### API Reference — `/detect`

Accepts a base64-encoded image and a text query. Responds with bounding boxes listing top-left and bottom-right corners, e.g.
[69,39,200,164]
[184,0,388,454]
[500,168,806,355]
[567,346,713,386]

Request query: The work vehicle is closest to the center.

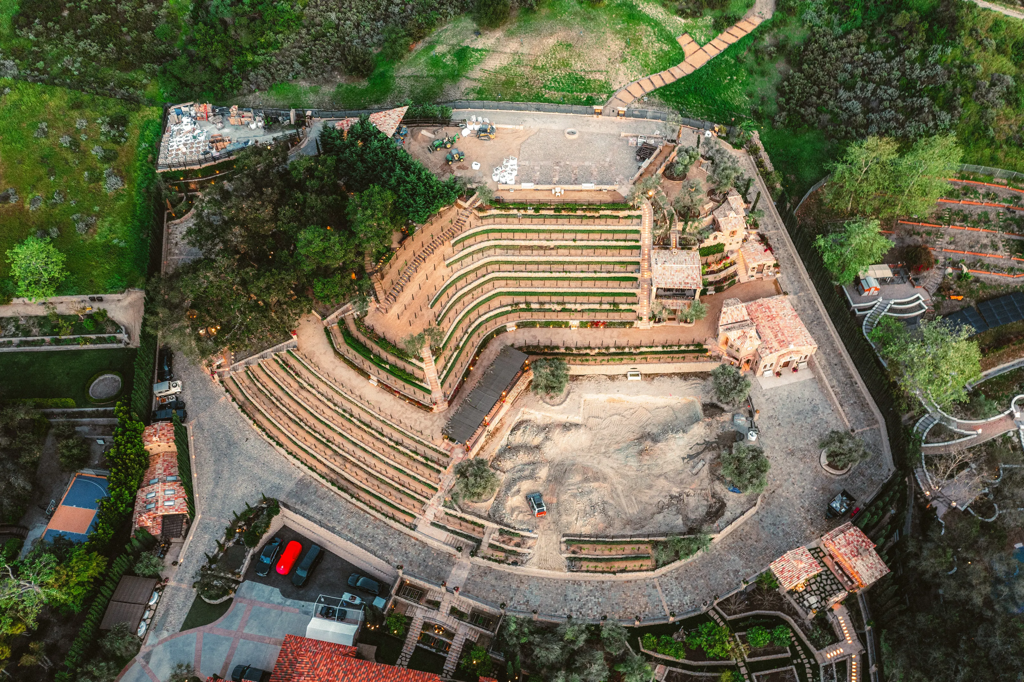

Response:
[526,490,548,518]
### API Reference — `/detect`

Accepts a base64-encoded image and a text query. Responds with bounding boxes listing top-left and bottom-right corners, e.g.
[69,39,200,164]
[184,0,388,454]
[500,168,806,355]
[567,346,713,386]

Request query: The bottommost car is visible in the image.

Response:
[225,661,272,682]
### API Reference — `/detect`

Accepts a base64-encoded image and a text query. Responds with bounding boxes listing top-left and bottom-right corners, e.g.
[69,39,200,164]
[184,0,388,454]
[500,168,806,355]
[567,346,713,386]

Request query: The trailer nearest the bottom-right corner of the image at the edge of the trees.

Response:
[827,489,863,521]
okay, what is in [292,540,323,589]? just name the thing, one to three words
car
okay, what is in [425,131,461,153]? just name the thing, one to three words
work vehicle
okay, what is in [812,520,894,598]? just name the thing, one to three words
building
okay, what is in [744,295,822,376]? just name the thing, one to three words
building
